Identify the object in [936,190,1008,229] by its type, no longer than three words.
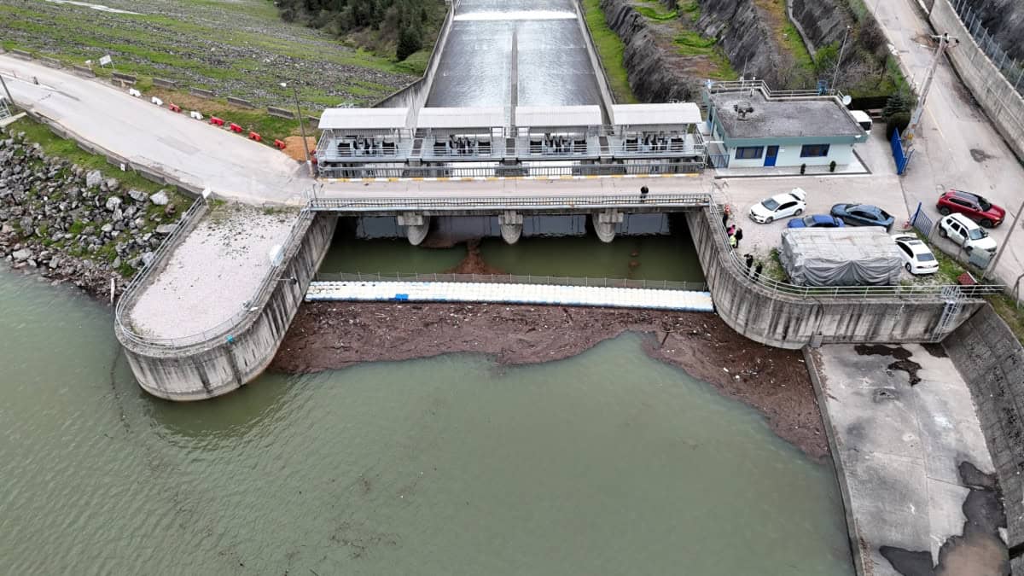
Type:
car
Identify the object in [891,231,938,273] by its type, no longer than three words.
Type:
car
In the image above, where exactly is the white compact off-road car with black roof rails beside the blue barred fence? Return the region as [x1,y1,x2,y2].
[937,212,999,255]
